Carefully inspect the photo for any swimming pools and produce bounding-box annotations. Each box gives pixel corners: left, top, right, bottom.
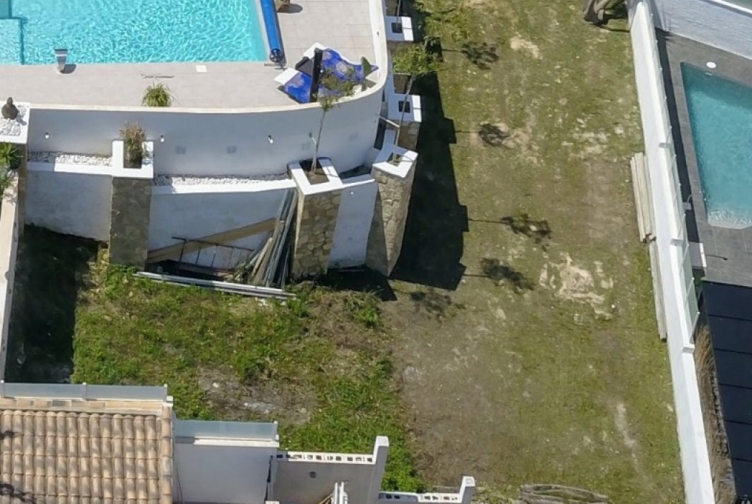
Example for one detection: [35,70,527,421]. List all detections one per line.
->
[683,64,752,231]
[0,0,263,65]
